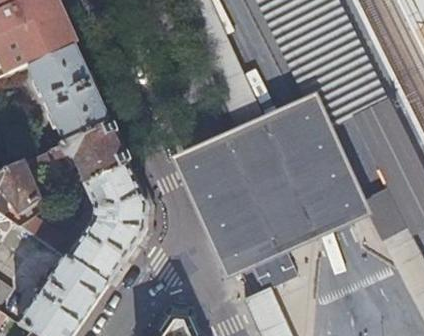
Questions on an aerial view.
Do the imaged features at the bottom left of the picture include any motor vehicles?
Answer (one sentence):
Yes, looking at the bottom left of the picture, one can make out a motor vehicle.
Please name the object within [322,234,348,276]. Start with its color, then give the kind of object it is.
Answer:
white bus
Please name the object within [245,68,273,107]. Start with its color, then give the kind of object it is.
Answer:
white bus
